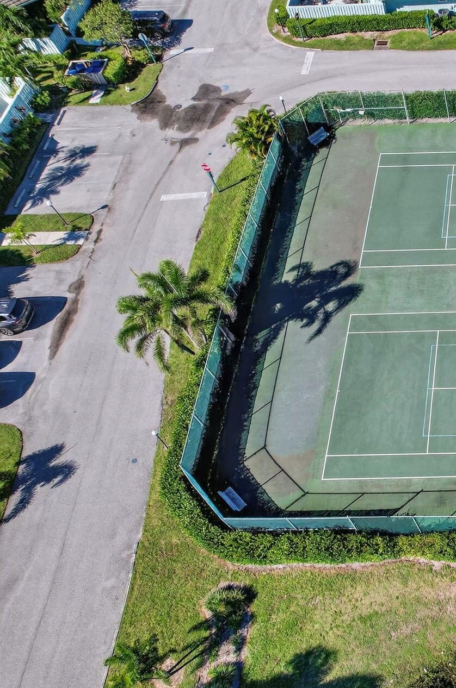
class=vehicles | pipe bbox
[125,14,176,46]
[0,295,40,334]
